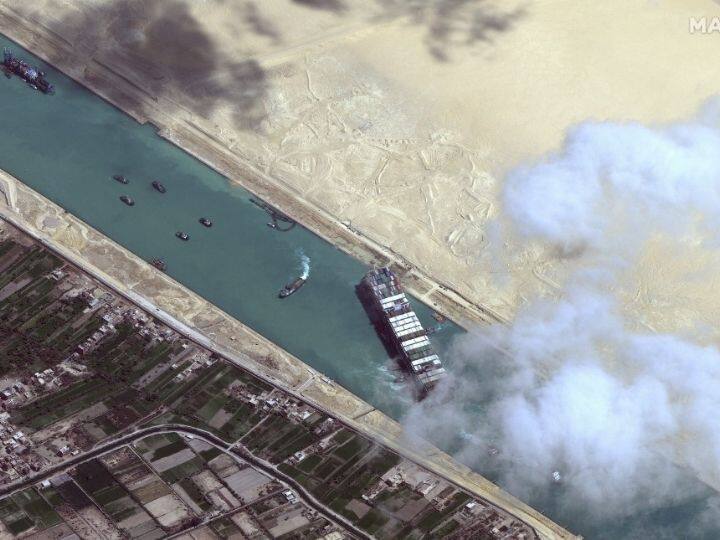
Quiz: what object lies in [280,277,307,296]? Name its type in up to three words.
ship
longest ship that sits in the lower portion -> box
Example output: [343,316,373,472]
[371,271,452,405]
